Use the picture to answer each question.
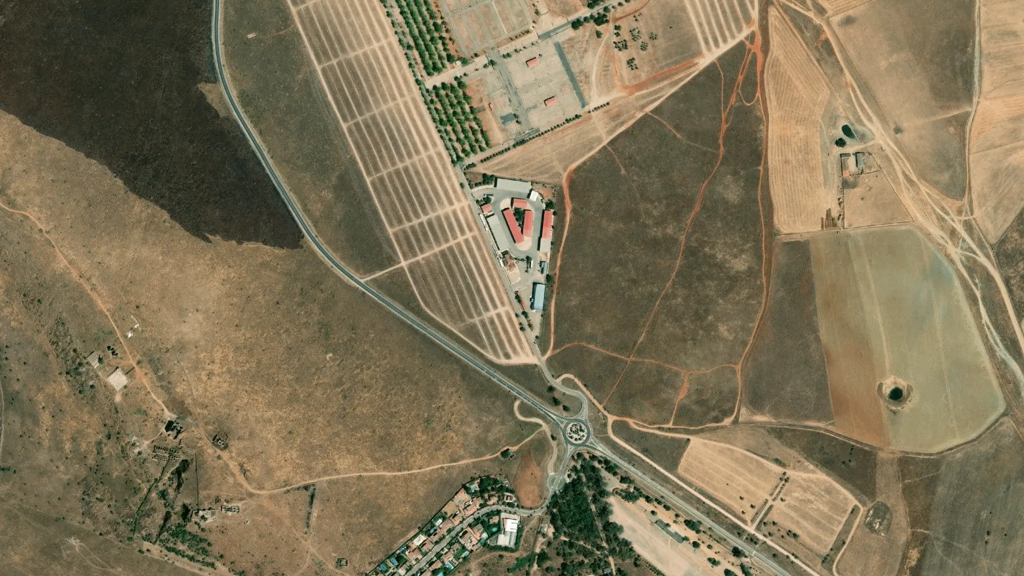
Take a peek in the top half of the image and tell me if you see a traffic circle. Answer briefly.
No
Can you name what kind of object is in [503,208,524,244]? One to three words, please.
building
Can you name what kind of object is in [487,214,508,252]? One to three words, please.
shed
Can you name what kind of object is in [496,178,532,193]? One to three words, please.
building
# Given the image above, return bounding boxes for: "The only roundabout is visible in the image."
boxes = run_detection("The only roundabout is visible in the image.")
[541,398,609,468]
